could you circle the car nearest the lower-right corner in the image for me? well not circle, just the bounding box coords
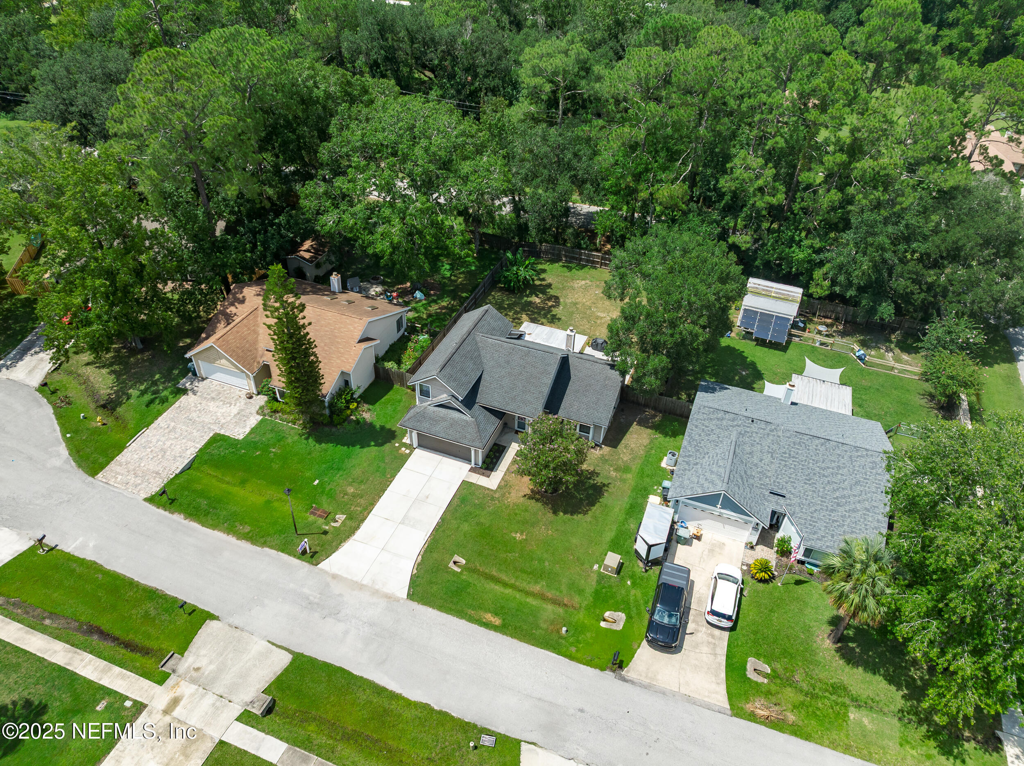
[704,561,746,630]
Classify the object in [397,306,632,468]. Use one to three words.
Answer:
house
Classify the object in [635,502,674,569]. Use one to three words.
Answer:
trailer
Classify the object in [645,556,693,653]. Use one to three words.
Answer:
truck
